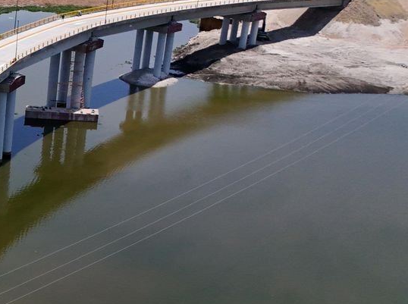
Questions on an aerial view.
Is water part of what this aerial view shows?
Yes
